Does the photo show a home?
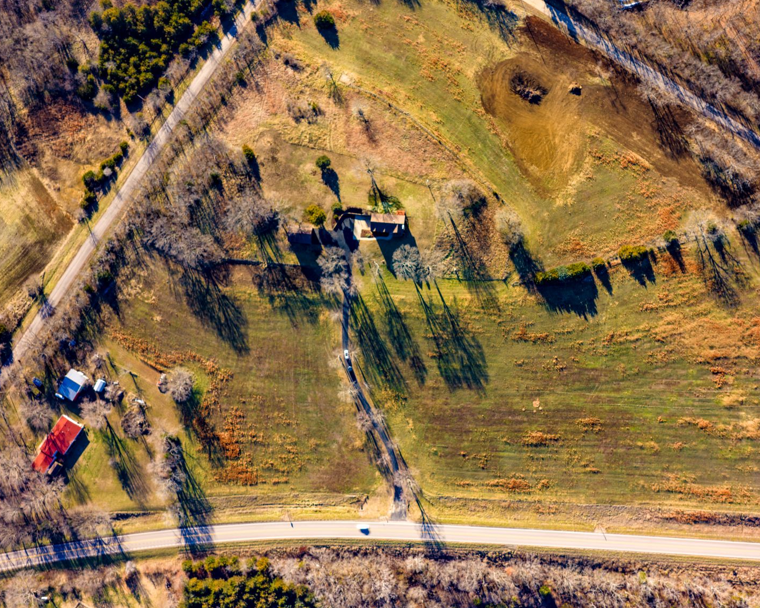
Yes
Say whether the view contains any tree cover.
Yes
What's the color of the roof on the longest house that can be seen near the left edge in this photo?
red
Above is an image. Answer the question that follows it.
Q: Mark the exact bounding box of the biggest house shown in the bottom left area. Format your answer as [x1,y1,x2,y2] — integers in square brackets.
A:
[34,413,88,472]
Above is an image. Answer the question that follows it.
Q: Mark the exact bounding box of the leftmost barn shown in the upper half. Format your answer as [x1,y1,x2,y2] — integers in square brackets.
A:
[285,223,321,245]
